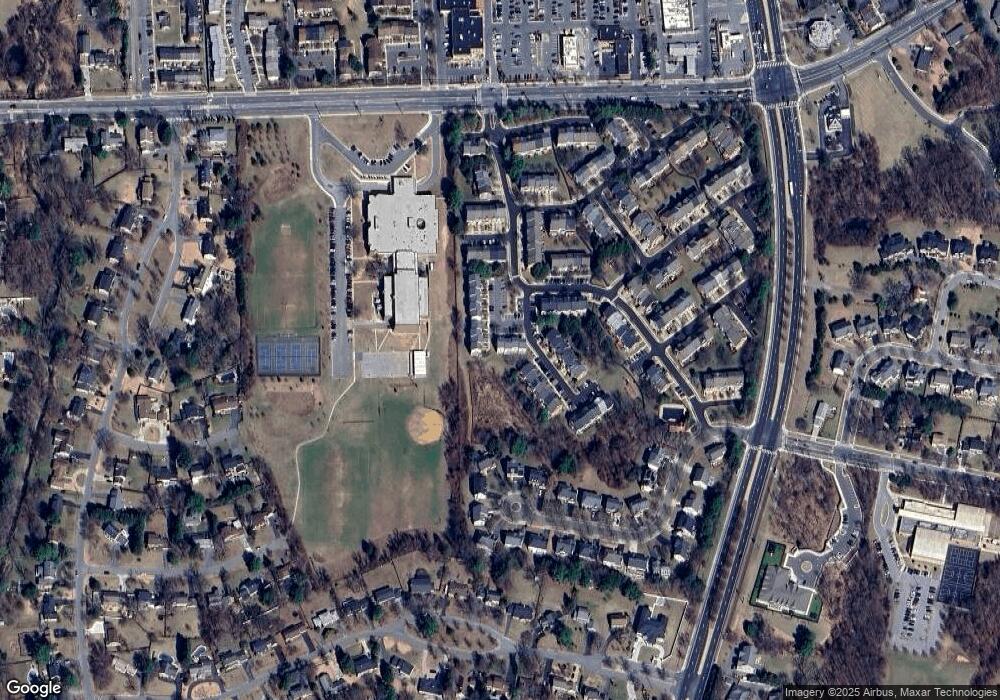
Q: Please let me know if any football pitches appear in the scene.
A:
Yes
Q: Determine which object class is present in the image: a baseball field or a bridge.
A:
baseball field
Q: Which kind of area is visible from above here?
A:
residential area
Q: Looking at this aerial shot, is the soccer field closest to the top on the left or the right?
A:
left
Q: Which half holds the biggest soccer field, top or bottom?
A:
bottom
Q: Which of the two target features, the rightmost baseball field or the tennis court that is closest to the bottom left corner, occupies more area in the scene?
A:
the tennis court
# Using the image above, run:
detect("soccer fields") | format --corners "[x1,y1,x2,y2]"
[254,206,318,334]
[298,386,444,551]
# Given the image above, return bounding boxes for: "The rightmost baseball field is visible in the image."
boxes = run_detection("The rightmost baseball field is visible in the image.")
[404,402,443,445]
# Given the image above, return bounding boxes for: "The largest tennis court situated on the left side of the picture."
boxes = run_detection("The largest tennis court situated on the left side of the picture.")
[257,336,320,376]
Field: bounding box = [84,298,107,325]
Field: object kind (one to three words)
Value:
house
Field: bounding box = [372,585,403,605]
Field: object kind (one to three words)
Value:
house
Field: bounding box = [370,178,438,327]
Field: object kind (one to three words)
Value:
building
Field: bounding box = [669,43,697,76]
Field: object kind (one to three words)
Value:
building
